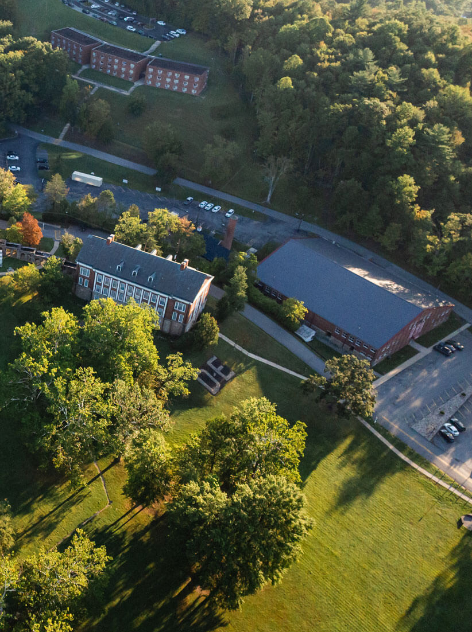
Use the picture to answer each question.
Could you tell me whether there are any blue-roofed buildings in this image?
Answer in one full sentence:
Yes, the frame does contain a blue-roofed building.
